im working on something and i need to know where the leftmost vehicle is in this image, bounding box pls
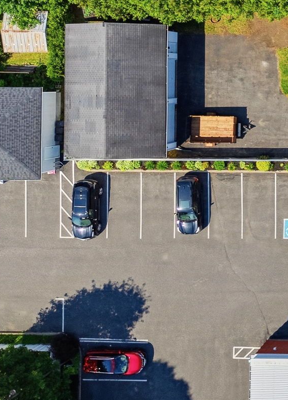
[68,179,102,239]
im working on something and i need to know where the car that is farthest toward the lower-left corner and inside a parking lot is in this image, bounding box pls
[83,347,147,381]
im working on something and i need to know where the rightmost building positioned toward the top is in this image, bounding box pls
[65,22,182,159]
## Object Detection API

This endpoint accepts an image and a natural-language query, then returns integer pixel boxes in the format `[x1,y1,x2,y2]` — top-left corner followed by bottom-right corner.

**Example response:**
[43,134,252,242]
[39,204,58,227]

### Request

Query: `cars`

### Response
[172,177,204,234]
[68,179,102,239]
[83,347,147,381]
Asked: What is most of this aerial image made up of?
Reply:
paved ground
